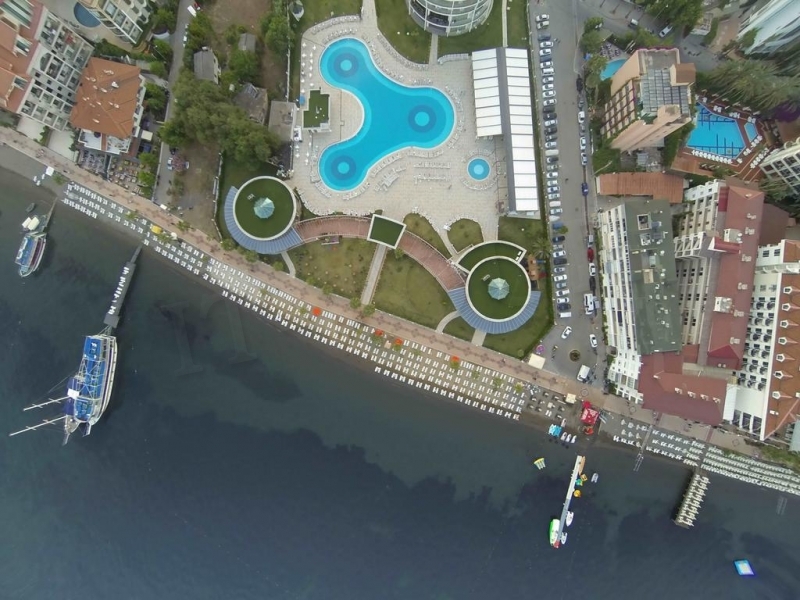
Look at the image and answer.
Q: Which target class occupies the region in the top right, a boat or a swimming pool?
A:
swimming pool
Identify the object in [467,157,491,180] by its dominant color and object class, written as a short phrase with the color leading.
blue swimming pool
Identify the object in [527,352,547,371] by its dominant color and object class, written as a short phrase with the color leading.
white umbrella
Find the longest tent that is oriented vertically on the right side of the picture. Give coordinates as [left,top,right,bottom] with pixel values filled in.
[505,48,538,216]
